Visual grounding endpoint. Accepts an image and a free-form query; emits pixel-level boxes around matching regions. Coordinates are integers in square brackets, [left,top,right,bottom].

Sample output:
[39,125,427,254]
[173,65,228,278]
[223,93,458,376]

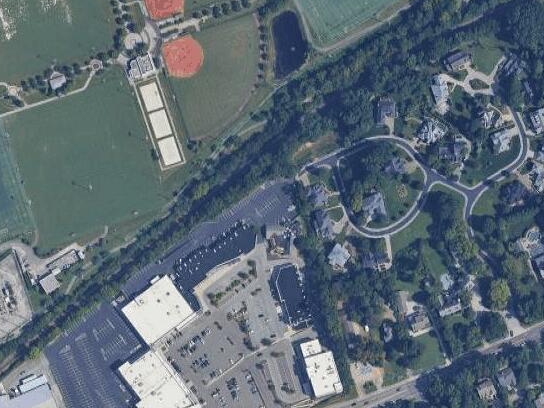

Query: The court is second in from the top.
[146,107,174,141]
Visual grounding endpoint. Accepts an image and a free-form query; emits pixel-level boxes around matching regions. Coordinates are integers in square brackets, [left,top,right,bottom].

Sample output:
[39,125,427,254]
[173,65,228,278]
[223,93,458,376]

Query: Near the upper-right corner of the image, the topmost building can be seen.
[440,47,474,74]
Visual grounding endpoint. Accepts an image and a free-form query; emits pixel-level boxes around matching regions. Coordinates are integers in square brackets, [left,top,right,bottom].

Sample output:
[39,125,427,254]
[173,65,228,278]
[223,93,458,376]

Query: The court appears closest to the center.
[155,135,185,169]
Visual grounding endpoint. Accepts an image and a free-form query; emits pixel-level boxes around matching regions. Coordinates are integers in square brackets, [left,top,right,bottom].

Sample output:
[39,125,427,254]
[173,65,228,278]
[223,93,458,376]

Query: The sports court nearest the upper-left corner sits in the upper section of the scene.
[137,80,165,113]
